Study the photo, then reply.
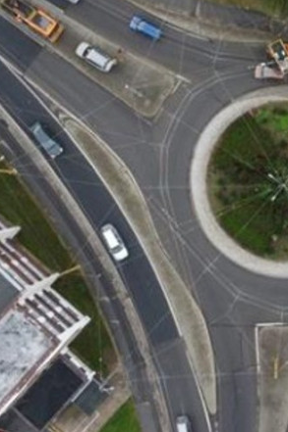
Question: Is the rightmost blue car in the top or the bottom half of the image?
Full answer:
The rightmost blue car is in the top half of the image.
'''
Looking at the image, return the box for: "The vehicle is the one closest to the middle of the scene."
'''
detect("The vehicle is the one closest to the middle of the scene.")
[102,225,127,260]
